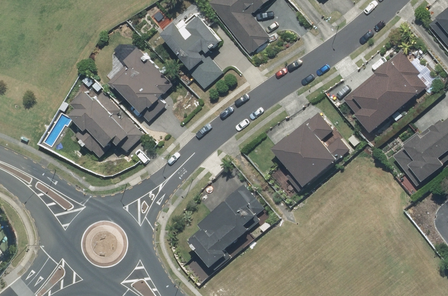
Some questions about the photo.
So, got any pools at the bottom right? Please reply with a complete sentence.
No, there's no pool to be seen at the bottom right.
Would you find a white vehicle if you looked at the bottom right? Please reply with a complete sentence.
No, there's no white vehicle to be seen at the bottom right.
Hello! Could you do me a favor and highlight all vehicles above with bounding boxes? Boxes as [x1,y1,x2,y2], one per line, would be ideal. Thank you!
[233,118,252,133]
[266,21,280,34]
[368,56,387,73]
[134,148,152,166]
[372,20,386,34]
[166,152,182,166]
[335,84,354,100]
[286,58,304,74]
[218,104,236,119]
[274,67,288,80]
[256,12,276,21]
[233,92,252,108]
[358,30,376,46]
[194,124,212,140]
[315,64,331,78]
[248,106,266,121]
[300,72,316,87]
